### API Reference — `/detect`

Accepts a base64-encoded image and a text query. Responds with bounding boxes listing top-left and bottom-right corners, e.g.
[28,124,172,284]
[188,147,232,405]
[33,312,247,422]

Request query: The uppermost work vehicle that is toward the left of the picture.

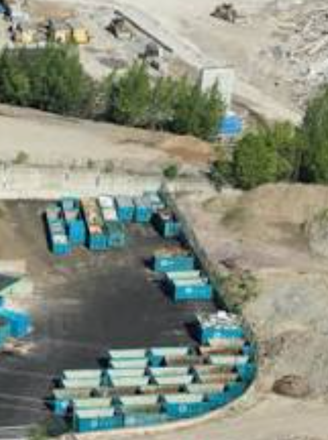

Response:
[108,13,141,37]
